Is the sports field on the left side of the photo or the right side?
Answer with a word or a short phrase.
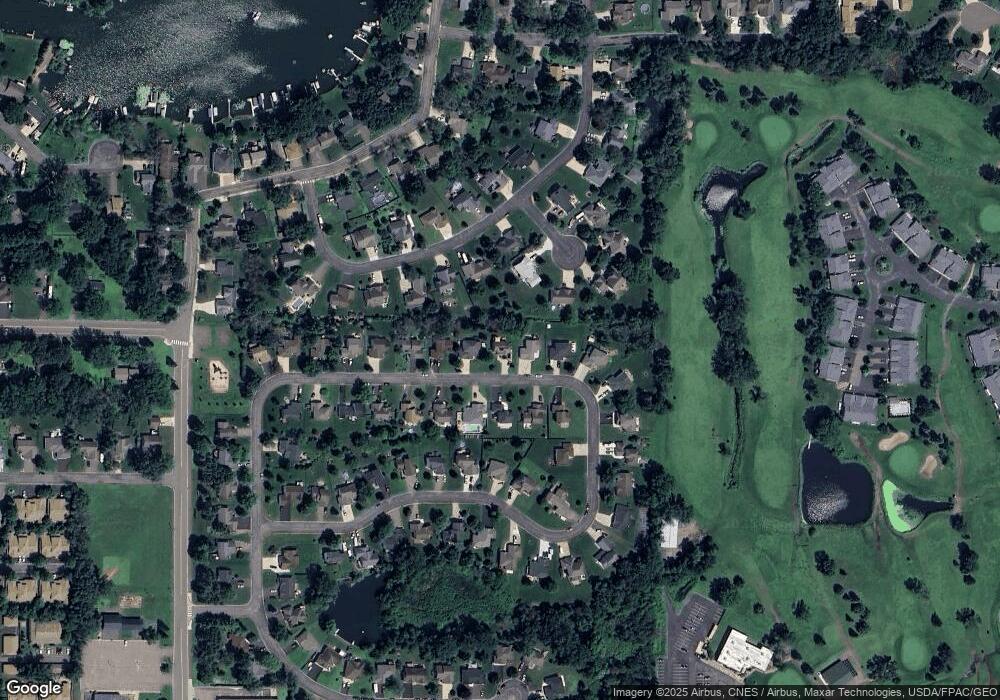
left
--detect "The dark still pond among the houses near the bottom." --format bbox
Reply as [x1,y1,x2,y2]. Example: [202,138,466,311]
[329,575,383,646]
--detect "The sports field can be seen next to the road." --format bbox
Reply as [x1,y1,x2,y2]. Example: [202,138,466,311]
[80,513,173,596]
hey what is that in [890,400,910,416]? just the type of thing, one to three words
swimming pool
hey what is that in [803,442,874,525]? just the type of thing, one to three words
pond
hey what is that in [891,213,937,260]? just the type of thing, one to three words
building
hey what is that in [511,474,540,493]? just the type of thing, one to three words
house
